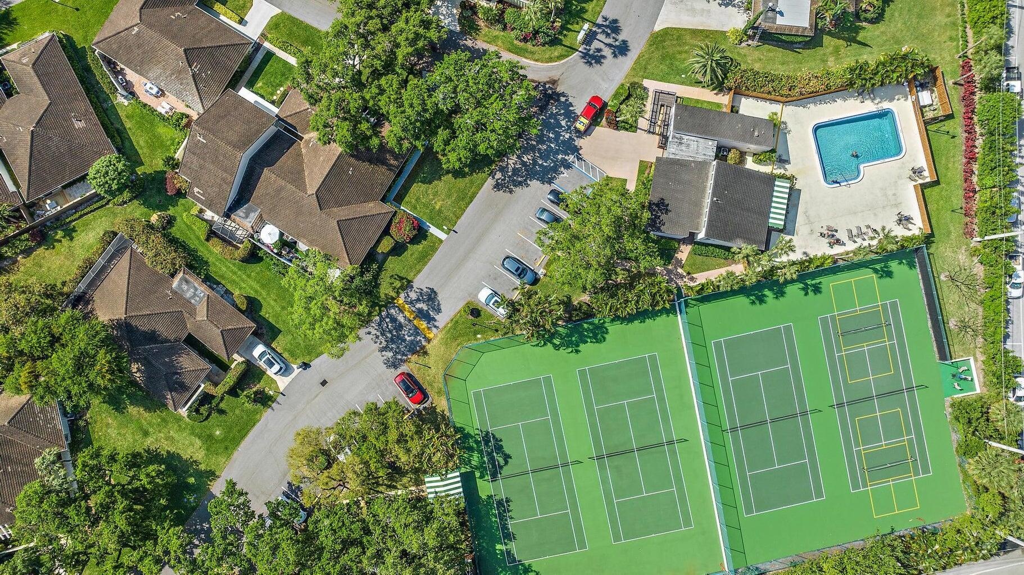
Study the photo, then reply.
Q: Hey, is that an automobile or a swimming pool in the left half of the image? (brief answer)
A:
automobile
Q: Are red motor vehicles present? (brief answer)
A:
Yes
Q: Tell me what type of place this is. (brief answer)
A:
residential area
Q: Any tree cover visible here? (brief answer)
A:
Yes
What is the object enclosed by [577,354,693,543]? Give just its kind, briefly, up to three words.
tennis court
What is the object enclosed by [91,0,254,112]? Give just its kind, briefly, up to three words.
house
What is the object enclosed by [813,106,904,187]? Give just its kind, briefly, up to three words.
swimming pool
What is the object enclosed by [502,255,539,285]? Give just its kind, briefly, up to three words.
car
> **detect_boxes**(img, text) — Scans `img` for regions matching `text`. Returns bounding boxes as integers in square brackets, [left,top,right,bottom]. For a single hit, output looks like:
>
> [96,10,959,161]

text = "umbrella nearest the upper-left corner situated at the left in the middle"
[261,224,281,244]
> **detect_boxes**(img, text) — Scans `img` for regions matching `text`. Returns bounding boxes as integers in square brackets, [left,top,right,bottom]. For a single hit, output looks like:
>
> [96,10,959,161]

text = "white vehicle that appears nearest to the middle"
[477,289,509,320]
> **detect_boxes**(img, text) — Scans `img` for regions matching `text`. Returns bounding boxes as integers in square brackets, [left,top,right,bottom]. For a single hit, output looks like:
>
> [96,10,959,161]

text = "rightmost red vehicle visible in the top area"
[575,93,602,135]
